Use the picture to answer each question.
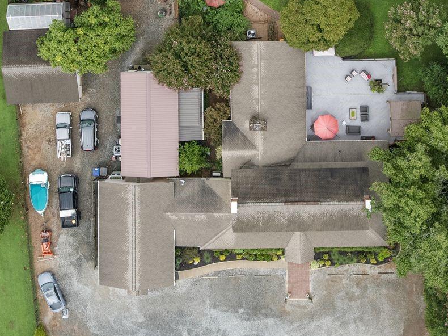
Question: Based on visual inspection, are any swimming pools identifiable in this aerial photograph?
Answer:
No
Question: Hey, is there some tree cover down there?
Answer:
Yes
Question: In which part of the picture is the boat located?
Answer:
left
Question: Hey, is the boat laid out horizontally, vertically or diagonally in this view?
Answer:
vertically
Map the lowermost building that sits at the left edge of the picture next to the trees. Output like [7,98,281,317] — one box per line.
[2,27,83,104]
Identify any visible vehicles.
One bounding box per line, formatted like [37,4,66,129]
[77,109,99,152]
[56,175,79,227]
[41,232,56,257]
[53,111,73,156]
[40,271,65,314]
